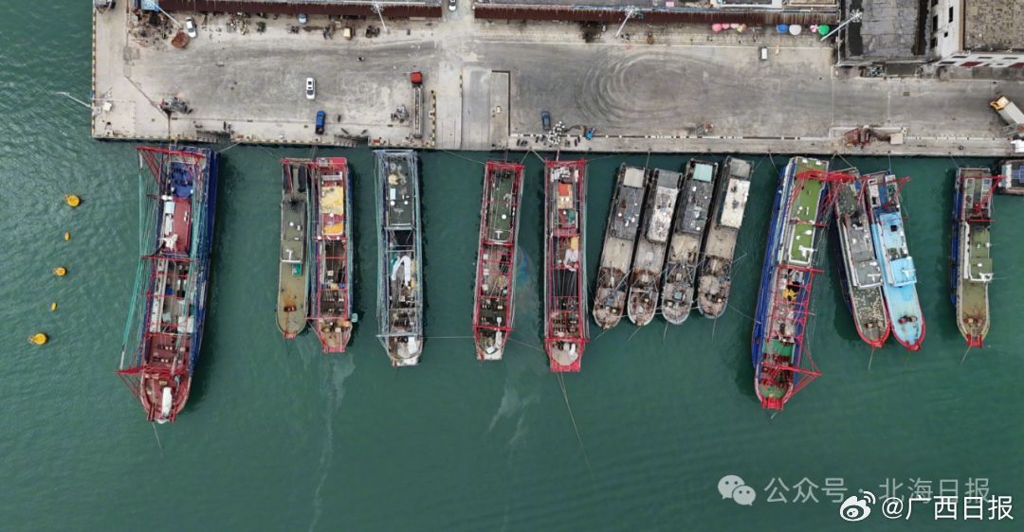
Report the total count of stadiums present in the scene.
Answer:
0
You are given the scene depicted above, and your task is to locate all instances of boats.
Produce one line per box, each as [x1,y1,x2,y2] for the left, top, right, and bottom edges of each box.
[988,160,1024,197]
[626,169,682,326]
[372,147,466,366]
[533,150,648,476]
[695,153,775,332]
[114,139,235,445]
[855,170,925,350]
[751,153,860,422]
[657,161,718,337]
[446,150,547,361]
[255,146,316,338]
[939,156,1007,364]
[304,147,359,353]
[829,155,889,369]
[588,154,650,330]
